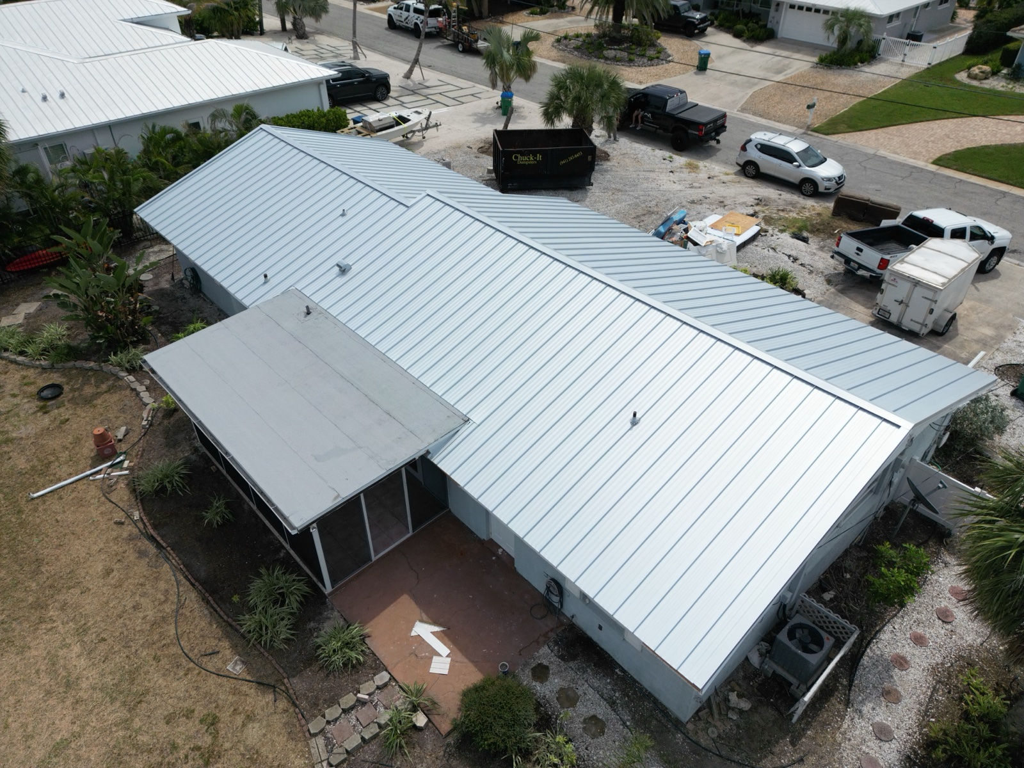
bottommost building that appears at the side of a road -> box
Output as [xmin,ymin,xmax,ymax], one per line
[135,124,995,722]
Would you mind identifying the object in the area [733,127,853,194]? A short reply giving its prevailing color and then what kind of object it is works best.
gray car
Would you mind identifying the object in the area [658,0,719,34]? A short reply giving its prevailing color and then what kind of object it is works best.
black car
